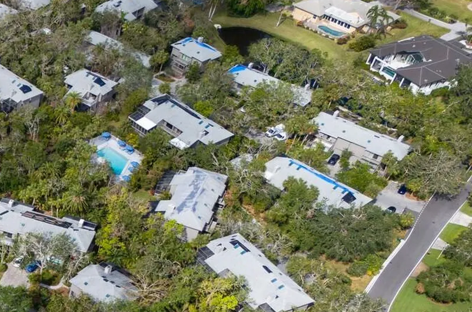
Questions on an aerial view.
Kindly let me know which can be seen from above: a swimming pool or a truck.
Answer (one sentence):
Looking from above, you can make out a swimming pool.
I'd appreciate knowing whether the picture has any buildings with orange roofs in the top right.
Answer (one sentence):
No, the scene shows no building with an orange roof in the top right.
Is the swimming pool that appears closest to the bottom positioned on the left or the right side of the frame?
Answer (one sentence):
You can find the swimming pool that appears closest to the bottom on the left side of the picture.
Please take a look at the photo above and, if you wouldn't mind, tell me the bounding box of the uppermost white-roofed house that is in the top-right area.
[301,0,390,37]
